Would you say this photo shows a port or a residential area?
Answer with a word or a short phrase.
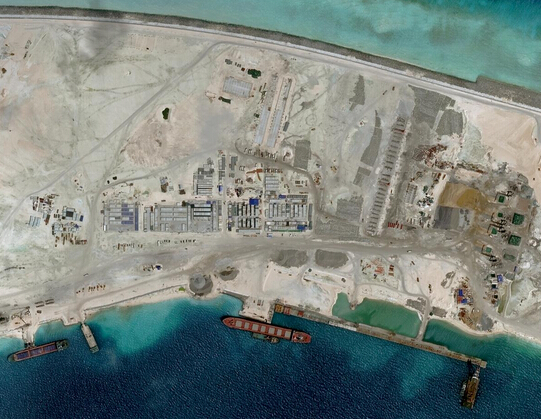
port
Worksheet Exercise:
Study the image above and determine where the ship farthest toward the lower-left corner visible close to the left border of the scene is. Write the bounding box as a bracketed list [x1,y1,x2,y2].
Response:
[8,341,68,361]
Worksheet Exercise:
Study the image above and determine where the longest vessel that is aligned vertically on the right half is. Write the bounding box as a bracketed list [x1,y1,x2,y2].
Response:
[464,368,480,408]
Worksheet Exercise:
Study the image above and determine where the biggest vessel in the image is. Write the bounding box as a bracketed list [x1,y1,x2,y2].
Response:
[221,311,312,344]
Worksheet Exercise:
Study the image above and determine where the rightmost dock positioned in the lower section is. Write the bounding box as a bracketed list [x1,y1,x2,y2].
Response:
[274,301,487,369]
